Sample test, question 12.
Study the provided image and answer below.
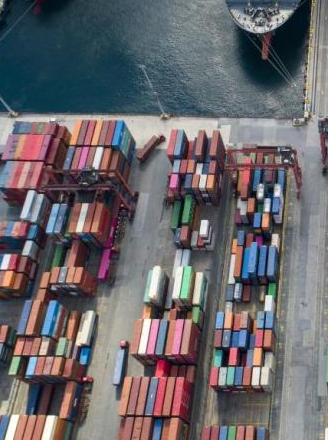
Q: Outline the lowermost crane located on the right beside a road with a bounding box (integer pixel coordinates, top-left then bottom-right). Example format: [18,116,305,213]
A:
[219,146,301,201]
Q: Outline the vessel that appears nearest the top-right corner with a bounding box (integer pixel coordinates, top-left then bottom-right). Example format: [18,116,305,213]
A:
[221,0,302,61]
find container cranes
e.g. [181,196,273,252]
[39,167,137,221]
[318,117,328,171]
[219,146,301,201]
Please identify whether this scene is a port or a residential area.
port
